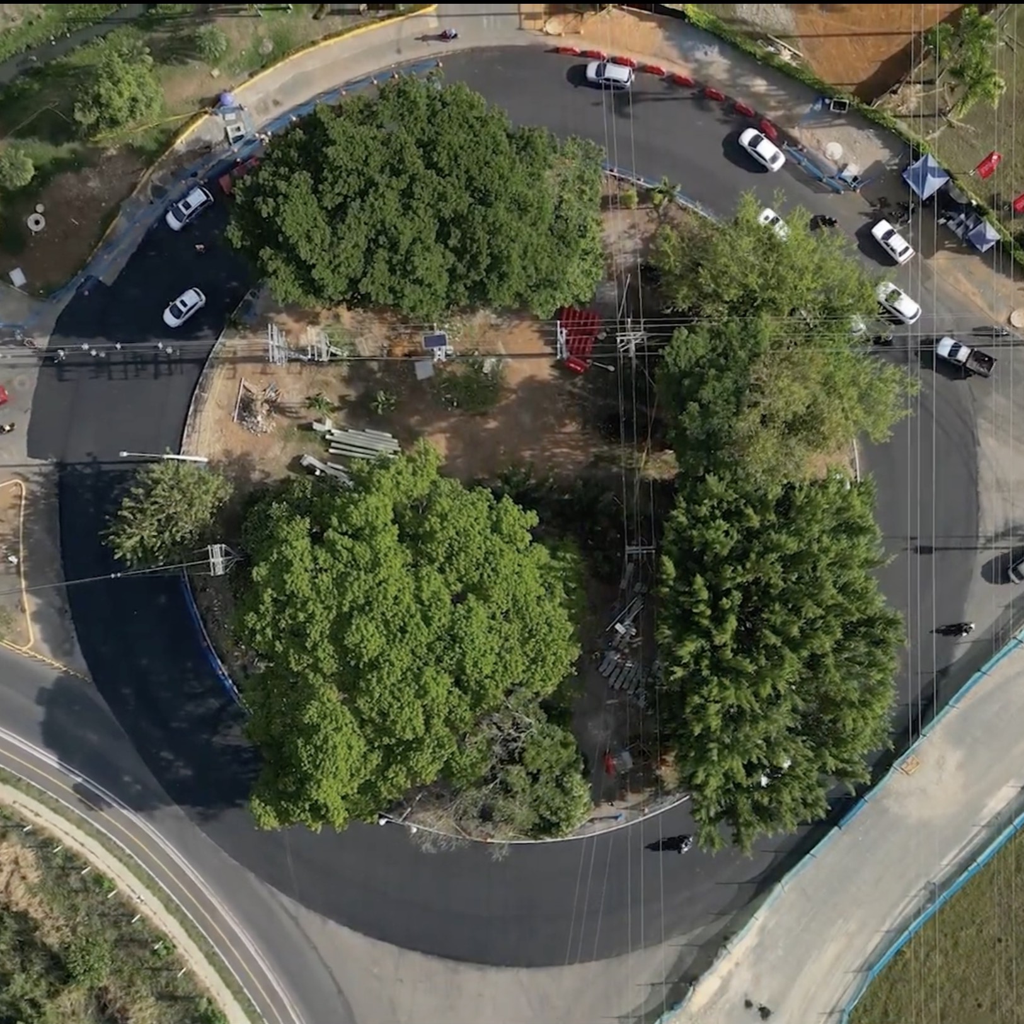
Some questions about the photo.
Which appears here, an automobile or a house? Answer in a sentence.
Of the two, only an automobile appears.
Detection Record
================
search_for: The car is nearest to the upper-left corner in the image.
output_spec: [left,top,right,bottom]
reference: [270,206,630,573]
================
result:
[163,185,213,227]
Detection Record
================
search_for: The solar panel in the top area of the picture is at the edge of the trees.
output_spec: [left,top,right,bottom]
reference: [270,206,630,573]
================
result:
[422,332,447,350]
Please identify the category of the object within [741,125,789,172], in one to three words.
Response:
car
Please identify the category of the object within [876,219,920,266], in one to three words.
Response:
car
